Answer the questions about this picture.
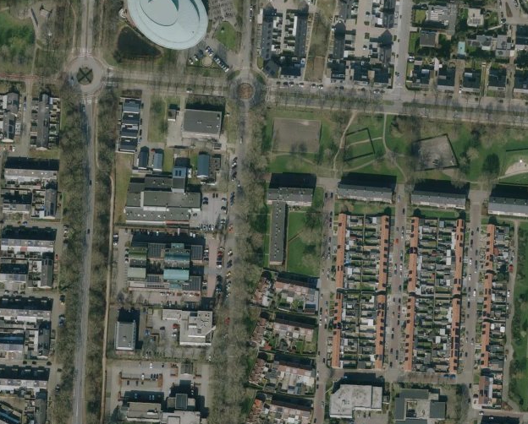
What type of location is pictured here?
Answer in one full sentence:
The picture captures a residential area.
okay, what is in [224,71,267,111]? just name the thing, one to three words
roundabout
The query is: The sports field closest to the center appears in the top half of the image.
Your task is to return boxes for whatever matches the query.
[271,116,323,153]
